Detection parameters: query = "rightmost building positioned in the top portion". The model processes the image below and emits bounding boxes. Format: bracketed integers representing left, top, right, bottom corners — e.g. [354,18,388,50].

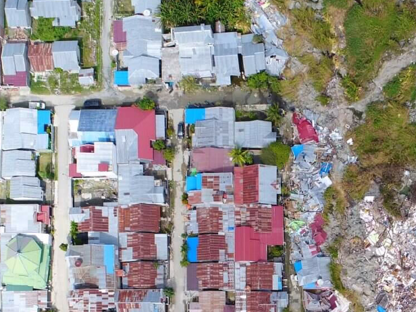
[265,48,288,79]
